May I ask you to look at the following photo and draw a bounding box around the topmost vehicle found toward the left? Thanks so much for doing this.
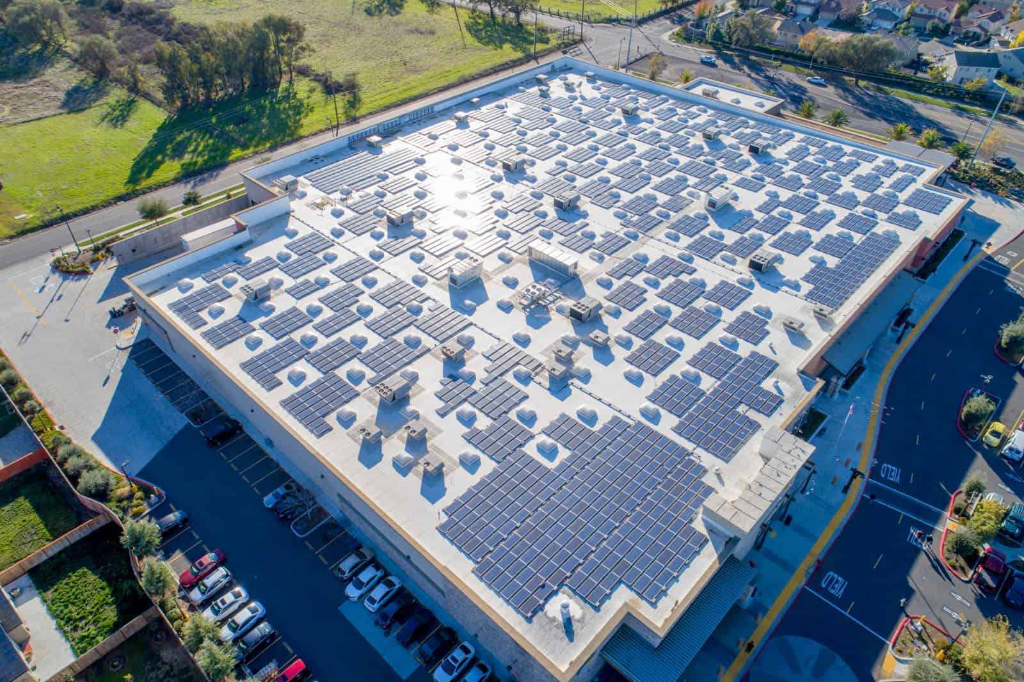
[203,417,242,447]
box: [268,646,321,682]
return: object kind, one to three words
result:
vehicle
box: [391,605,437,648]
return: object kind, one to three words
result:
car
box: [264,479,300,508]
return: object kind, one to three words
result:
car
